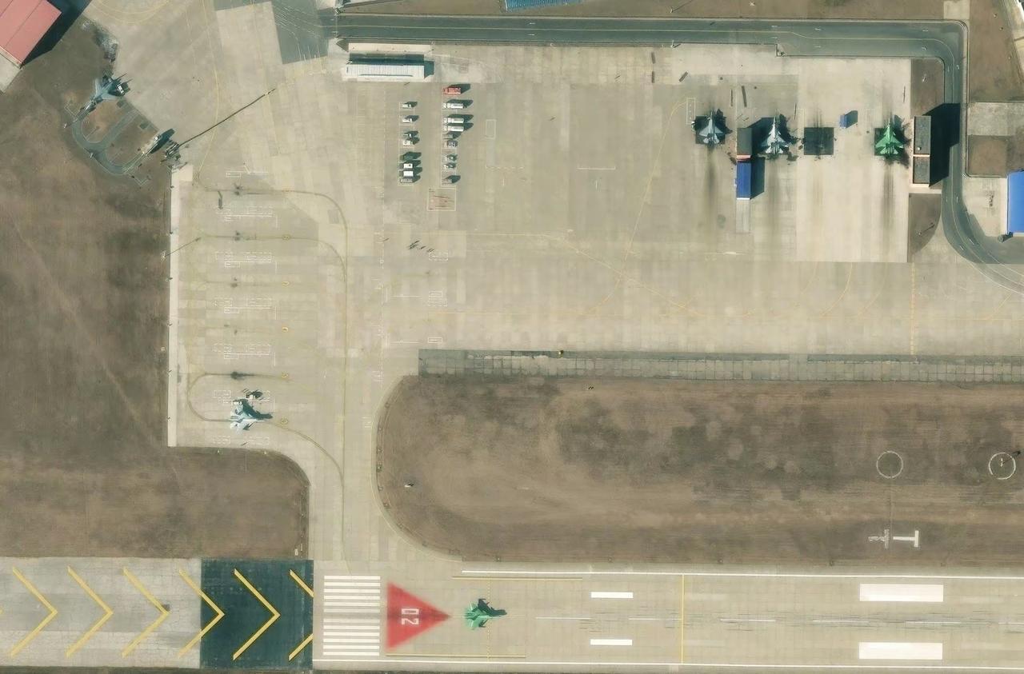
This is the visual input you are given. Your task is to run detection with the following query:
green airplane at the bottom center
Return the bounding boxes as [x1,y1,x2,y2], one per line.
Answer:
[462,603,501,630]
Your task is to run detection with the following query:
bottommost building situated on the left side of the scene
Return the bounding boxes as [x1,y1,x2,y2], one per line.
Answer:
[346,64,424,79]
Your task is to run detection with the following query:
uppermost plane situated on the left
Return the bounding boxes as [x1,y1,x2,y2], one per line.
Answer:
[89,75,120,106]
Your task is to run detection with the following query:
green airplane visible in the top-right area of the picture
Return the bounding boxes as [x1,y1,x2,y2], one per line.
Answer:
[876,119,903,155]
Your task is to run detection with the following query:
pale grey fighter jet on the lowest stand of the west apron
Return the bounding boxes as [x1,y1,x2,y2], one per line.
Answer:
[227,404,265,431]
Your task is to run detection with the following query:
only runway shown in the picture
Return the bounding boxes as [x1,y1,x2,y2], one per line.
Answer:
[313,560,1024,674]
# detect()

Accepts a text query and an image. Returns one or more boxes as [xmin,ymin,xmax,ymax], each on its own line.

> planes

[698,110,724,146]
[462,603,501,630]
[89,75,120,106]
[876,119,903,155]
[762,117,789,154]
[227,404,265,431]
